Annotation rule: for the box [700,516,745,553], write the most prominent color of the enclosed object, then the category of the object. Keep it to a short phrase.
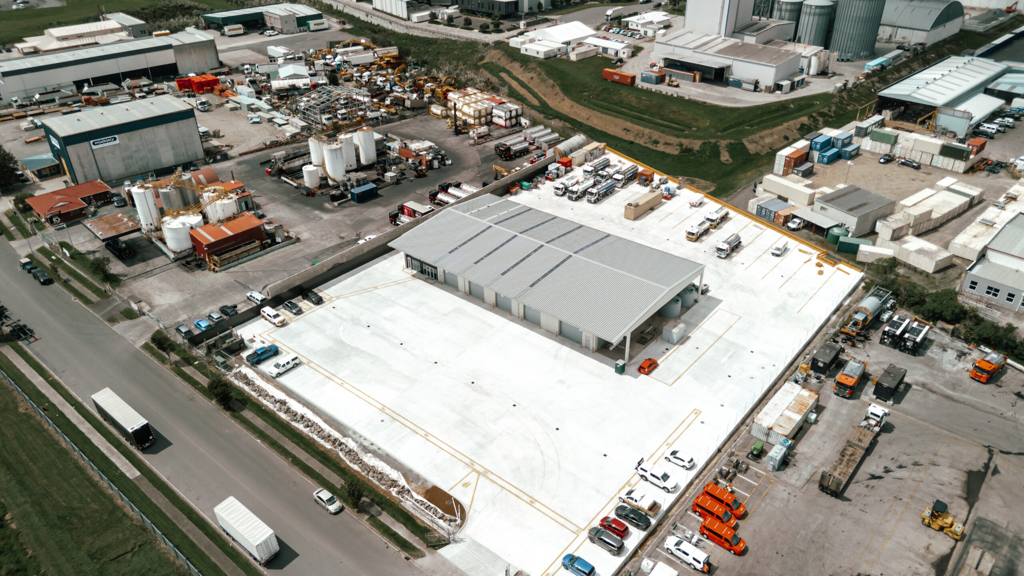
orange van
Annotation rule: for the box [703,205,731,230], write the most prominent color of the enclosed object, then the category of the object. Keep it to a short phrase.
white truck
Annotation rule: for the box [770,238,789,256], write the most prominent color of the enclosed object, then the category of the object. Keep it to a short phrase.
white vehicle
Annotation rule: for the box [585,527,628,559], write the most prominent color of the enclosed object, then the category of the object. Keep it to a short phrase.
gray car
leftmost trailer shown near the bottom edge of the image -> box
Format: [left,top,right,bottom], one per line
[214,496,279,565]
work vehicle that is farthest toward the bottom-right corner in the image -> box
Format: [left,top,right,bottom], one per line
[918,501,969,540]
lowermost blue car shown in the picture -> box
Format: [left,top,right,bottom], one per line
[558,551,599,576]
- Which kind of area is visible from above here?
industrial area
